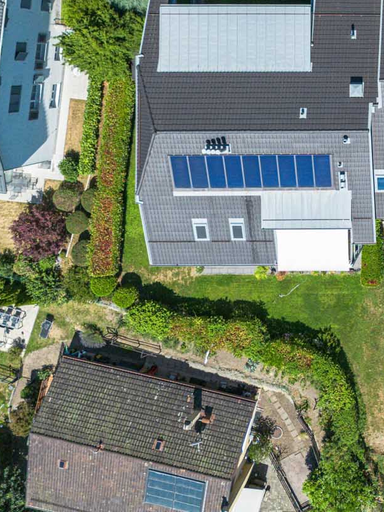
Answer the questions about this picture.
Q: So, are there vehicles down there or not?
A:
No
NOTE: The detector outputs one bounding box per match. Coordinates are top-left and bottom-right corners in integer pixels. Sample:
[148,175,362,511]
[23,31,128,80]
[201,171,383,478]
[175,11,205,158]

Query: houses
[133,0,384,272]
[26,355,266,512]
[0,0,59,193]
